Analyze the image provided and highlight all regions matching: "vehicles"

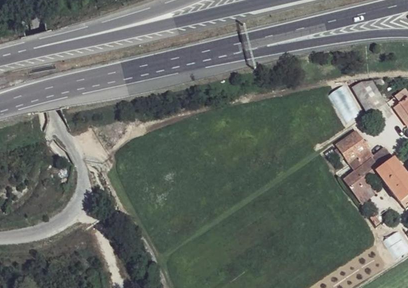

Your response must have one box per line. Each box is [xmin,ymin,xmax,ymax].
[372,144,383,154]
[394,126,402,136]
[353,15,365,21]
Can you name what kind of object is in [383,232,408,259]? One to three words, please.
greenhouse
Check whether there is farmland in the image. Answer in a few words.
Yes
